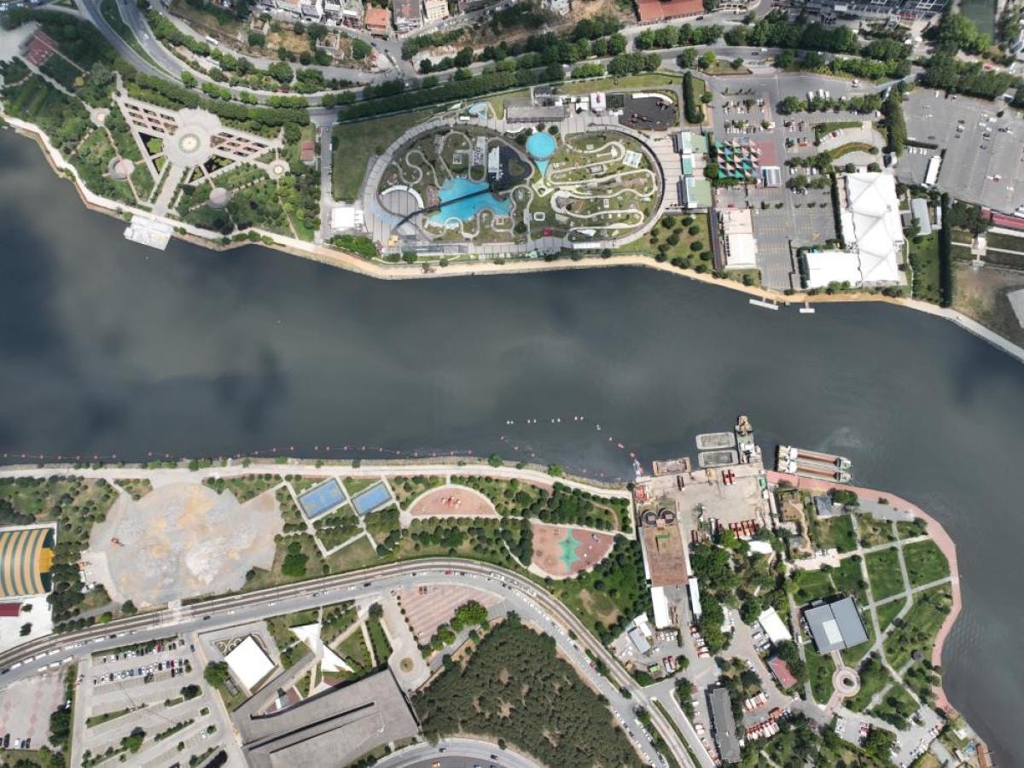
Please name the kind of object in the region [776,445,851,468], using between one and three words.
ship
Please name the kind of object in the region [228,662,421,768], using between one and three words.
building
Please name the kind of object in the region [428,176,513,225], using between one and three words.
swimming pool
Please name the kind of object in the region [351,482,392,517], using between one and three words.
basketball court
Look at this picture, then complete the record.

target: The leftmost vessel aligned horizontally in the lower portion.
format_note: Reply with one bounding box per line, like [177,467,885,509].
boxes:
[652,457,691,476]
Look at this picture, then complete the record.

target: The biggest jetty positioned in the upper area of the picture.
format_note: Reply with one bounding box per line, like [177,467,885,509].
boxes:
[123,215,173,251]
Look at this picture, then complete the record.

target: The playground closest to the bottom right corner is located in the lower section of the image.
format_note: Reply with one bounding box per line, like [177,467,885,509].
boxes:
[532,524,614,577]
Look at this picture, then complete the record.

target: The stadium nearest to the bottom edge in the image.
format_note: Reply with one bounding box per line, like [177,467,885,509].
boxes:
[0,526,60,597]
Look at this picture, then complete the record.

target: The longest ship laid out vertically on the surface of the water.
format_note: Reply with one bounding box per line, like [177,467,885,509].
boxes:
[734,415,763,463]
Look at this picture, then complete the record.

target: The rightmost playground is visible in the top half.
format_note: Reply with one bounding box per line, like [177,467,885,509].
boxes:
[618,93,676,129]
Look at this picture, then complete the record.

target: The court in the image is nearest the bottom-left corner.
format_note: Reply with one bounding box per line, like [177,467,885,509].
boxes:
[298,478,347,520]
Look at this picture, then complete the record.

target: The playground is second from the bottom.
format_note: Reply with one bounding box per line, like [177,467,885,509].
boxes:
[408,484,499,516]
